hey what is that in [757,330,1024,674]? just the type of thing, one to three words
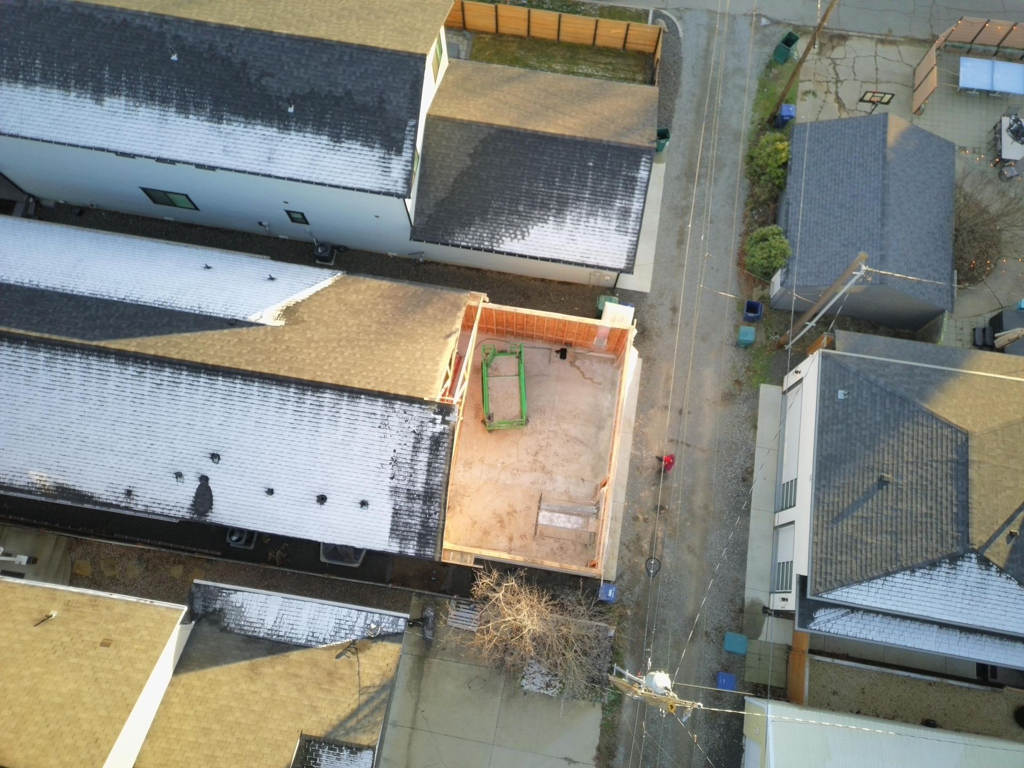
house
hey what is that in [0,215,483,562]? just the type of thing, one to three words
house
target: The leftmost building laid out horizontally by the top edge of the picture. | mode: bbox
[0,0,658,292]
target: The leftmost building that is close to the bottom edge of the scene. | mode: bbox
[0,566,421,768]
